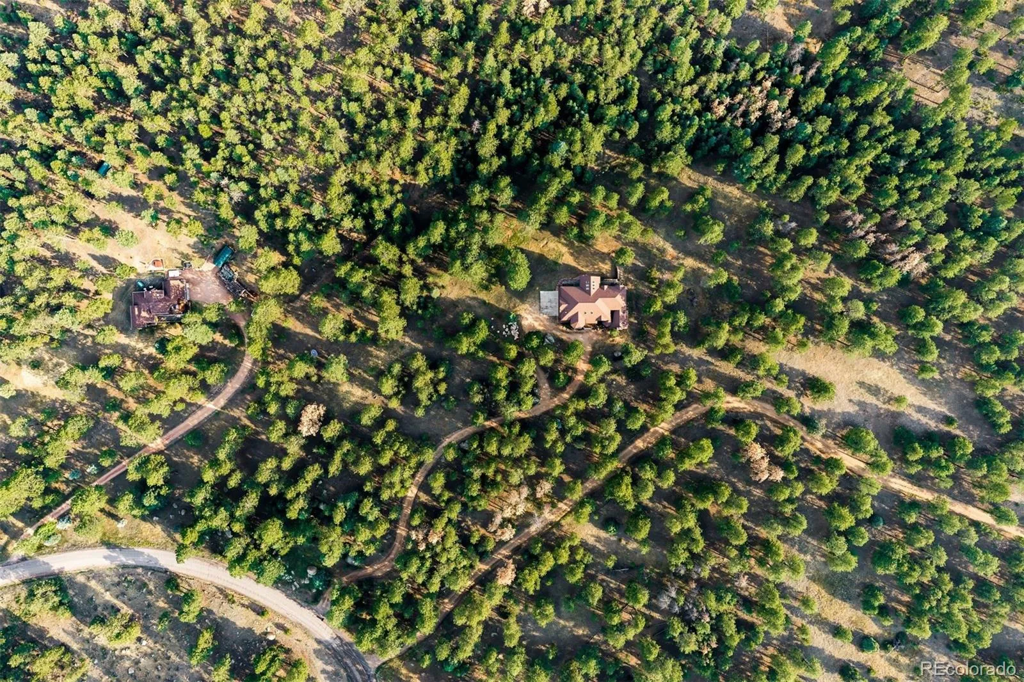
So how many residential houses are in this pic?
two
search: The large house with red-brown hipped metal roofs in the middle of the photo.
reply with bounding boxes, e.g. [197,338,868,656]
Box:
[558,275,627,329]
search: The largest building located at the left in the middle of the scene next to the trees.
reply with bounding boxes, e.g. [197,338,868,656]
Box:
[130,280,190,329]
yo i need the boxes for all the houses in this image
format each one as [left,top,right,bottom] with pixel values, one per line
[130,280,190,329]
[558,275,627,329]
